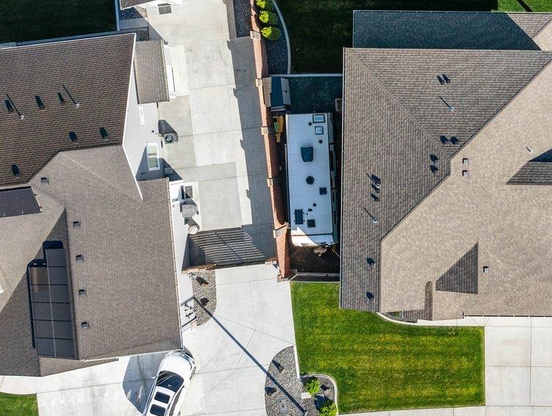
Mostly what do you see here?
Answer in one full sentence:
The bulk of the photo consists of buildings.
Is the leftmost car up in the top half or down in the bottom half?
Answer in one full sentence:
The leftmost car is in the bottom half of the image.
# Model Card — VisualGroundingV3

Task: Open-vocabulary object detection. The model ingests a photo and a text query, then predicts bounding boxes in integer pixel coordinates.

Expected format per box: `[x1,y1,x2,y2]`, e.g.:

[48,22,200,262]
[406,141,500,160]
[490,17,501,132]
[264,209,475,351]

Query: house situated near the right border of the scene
[339,9,552,321]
